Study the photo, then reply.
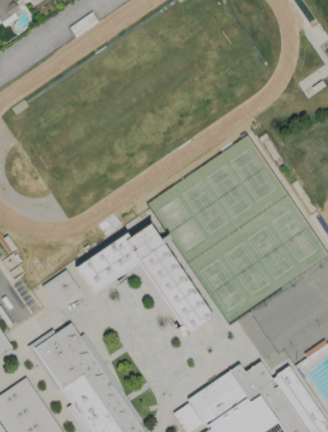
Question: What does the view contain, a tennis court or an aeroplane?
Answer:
tennis court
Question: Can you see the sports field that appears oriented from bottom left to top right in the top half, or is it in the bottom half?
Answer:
top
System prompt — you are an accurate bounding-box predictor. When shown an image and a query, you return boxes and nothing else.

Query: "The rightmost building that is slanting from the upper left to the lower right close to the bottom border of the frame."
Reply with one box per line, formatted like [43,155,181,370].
[274,366,328,432]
